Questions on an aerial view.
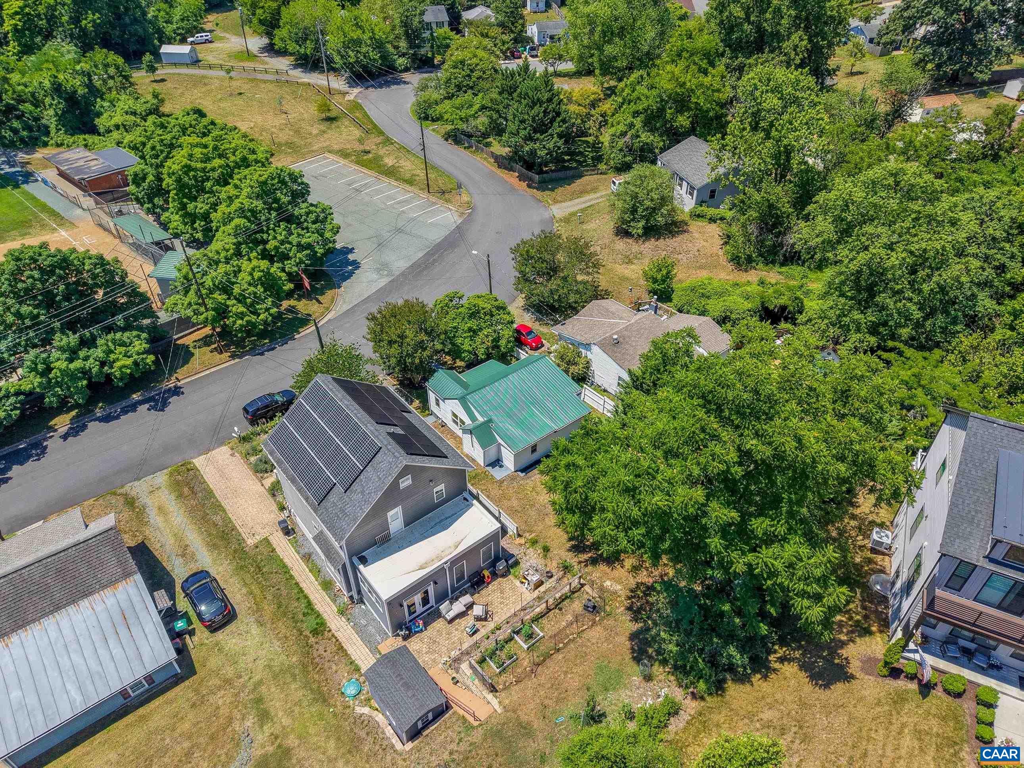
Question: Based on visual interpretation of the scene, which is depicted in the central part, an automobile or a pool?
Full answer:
Visible in the central part is an automobile.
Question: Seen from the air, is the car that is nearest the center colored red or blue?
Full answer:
From above, the car that is nearest the center appears red.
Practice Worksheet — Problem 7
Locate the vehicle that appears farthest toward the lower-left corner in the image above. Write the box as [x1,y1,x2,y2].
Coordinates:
[176,563,235,640]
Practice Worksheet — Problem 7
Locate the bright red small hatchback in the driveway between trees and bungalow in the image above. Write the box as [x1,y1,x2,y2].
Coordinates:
[510,321,548,353]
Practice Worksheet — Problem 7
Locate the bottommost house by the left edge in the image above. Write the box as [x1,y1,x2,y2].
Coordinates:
[0,511,180,768]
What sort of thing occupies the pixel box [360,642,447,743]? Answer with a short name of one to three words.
shed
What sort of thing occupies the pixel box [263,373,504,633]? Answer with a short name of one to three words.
house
